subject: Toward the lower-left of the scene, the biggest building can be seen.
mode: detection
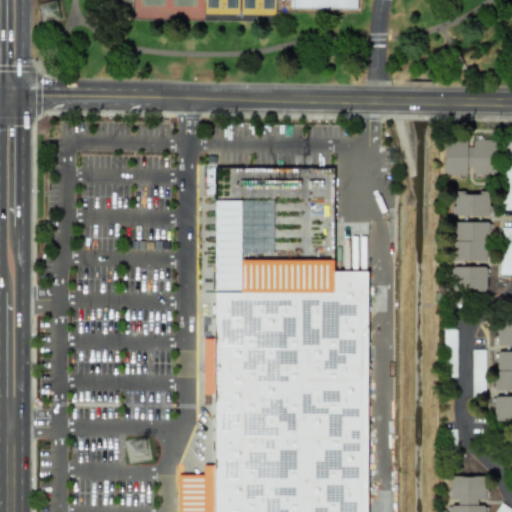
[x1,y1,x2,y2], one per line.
[125,439,152,466]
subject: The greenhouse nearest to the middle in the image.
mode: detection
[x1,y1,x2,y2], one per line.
[243,200,274,253]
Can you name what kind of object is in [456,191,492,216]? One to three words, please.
building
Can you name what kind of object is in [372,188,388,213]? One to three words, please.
vehicle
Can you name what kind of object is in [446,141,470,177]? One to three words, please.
building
